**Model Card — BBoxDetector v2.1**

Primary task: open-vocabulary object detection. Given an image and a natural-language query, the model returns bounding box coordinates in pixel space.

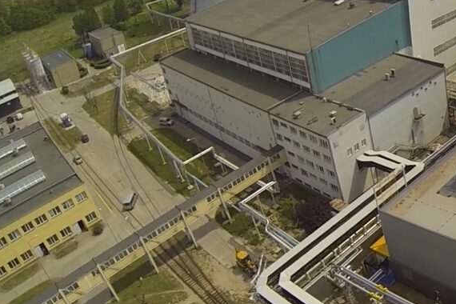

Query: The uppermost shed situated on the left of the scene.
[87,25,129,57]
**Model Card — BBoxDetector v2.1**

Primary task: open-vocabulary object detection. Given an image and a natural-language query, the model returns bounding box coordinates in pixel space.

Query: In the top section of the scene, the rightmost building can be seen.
[154,0,456,202]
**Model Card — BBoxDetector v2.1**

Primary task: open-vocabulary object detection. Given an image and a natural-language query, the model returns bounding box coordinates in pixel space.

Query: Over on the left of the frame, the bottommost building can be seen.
[0,120,102,282]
